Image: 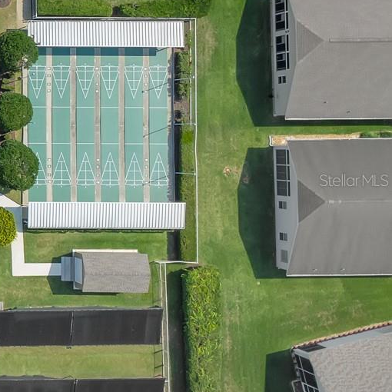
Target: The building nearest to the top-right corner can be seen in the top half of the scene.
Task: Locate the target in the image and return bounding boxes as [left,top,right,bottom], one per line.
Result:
[273,0,392,120]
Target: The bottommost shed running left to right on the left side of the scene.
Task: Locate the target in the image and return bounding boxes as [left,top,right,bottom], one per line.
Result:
[60,249,153,294]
